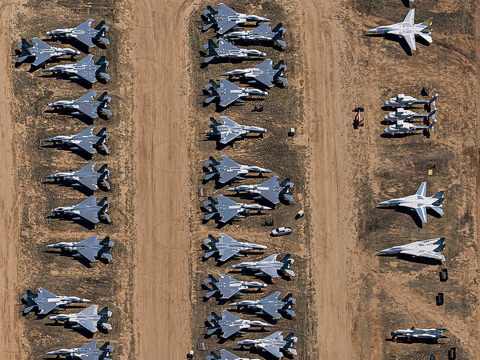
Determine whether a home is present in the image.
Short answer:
No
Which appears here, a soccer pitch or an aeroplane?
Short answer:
aeroplane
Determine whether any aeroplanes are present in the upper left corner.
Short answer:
Yes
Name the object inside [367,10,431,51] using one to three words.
airplane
